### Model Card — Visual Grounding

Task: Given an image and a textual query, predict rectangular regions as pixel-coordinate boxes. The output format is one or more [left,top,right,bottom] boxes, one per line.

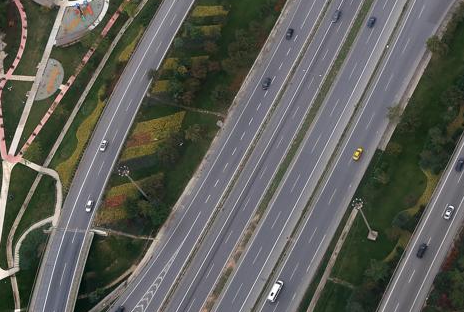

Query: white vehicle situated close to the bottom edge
[267,280,283,301]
